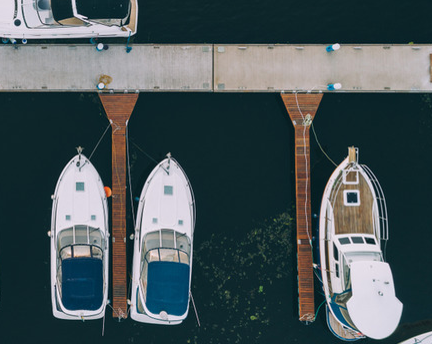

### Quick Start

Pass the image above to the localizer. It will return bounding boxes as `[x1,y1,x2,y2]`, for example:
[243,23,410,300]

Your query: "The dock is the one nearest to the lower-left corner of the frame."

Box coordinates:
[98,91,139,321]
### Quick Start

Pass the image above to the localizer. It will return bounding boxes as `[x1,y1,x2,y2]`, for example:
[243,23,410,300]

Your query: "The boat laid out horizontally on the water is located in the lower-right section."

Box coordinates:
[400,329,432,344]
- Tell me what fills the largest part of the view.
water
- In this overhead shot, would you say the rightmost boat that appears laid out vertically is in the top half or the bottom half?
bottom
